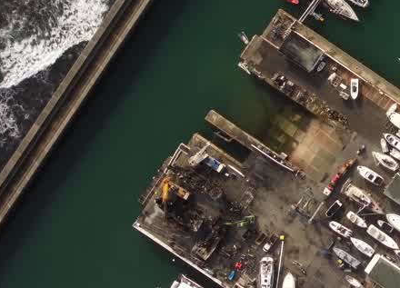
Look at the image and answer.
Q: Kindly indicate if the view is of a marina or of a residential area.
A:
marina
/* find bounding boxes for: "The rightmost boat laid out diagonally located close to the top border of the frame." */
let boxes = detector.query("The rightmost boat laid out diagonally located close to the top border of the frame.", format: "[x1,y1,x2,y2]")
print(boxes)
[324,0,358,20]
